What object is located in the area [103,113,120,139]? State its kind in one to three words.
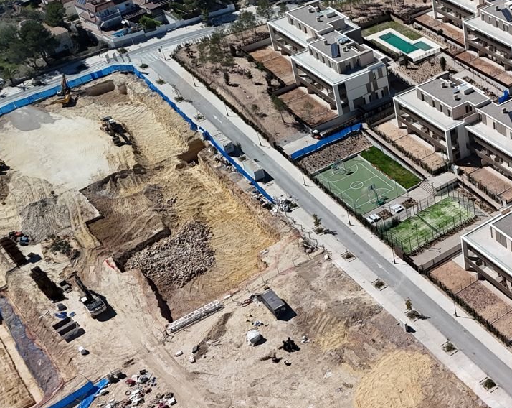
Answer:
work vehicle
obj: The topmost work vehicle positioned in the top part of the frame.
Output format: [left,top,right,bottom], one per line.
[49,83,77,105]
